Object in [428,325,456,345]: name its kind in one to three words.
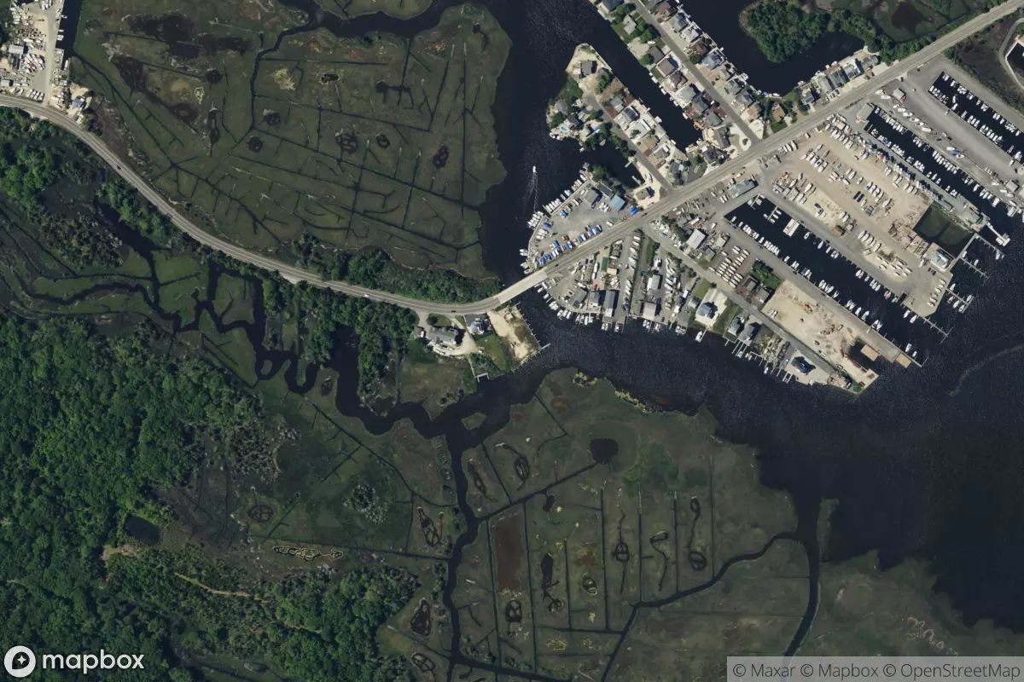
house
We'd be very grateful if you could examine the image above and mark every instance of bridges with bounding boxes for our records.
[495,265,551,304]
